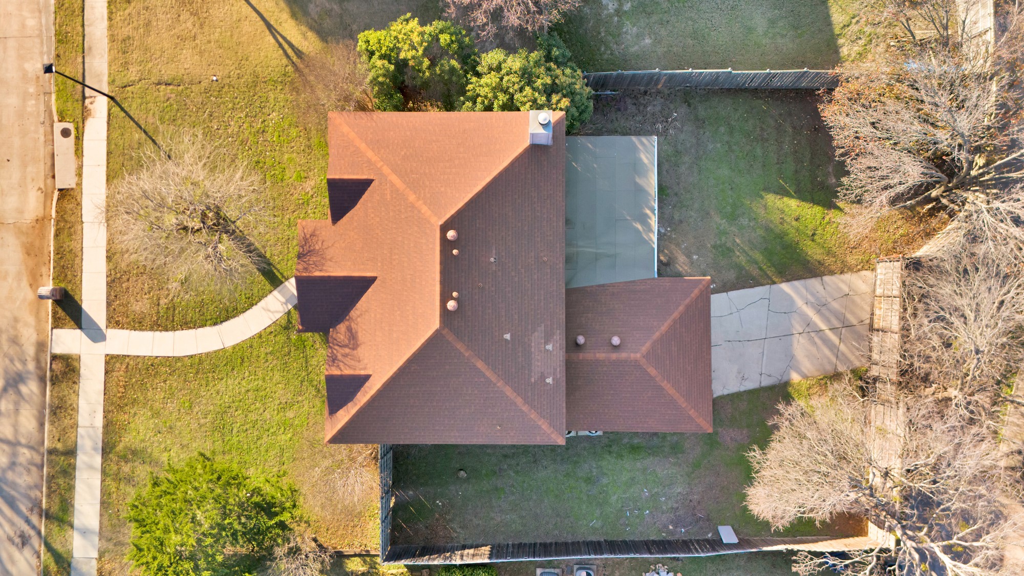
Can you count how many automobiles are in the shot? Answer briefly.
0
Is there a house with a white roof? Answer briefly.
No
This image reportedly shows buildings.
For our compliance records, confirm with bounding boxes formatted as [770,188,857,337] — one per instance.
[289,108,714,447]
